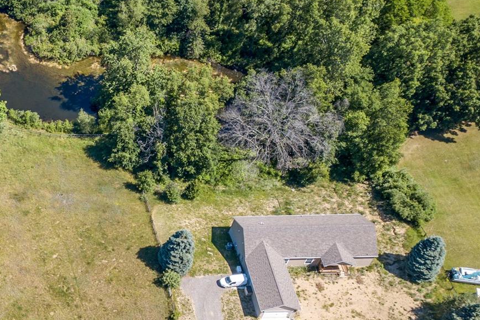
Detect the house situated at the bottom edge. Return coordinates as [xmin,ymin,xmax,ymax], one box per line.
[231,214,378,317]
